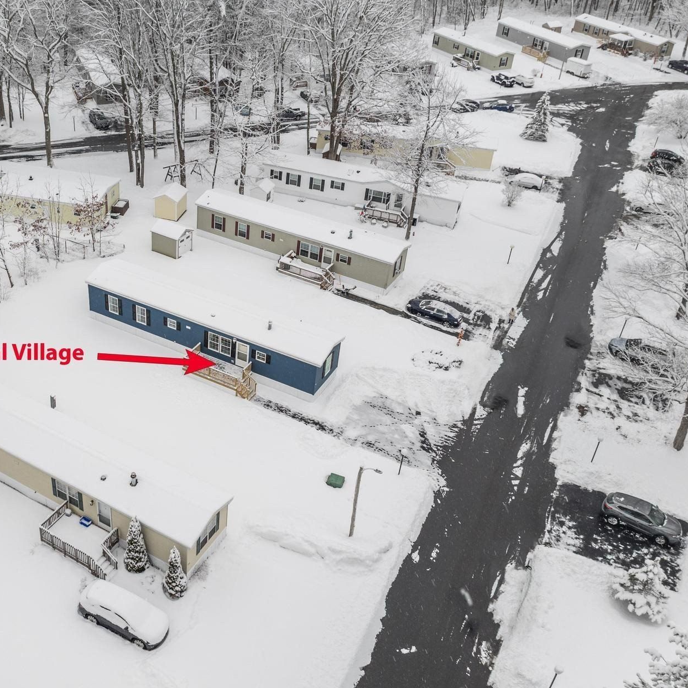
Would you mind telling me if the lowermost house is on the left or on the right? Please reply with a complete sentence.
The lowermost house sits on the left side.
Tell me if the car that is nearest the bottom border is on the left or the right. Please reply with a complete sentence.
The car that is nearest the bottom border sits on the left side.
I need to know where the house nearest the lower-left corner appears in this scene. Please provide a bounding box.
[0,388,233,576]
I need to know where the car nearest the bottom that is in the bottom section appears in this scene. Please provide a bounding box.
[76,580,168,654]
